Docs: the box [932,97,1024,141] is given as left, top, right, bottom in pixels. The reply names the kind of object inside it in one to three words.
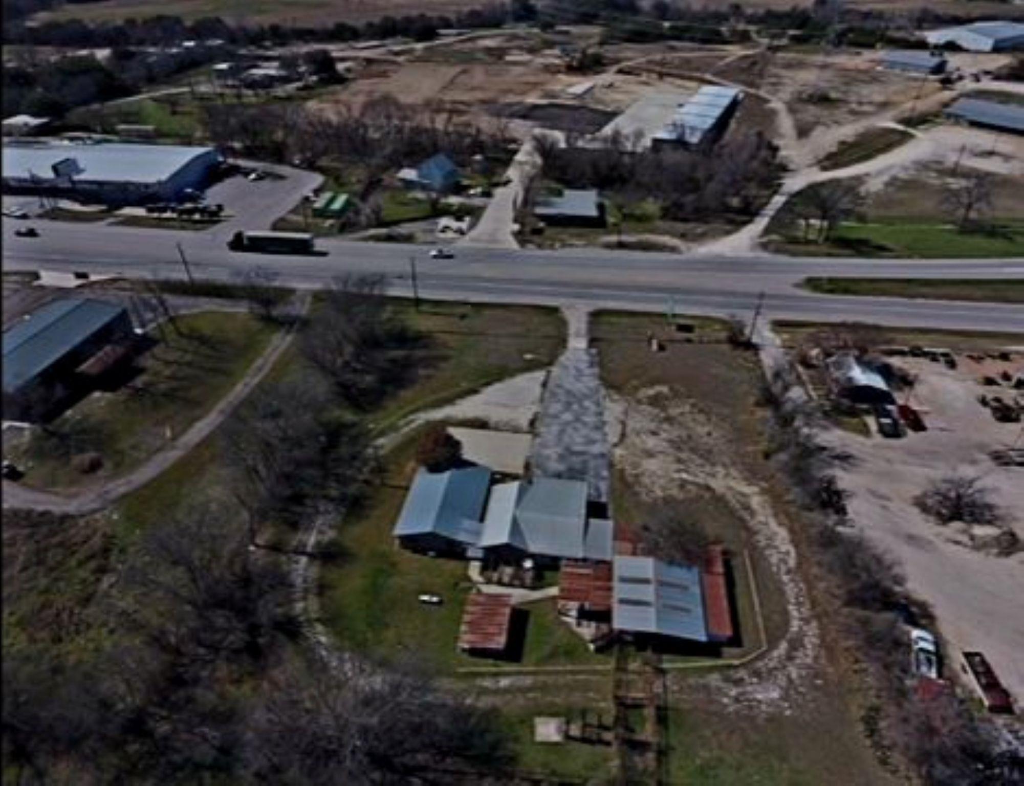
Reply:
barn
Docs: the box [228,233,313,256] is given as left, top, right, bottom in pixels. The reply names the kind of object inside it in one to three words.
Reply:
truck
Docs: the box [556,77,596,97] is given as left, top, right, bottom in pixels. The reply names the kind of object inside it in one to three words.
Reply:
shed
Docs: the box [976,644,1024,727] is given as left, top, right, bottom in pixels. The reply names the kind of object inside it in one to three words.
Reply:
trailer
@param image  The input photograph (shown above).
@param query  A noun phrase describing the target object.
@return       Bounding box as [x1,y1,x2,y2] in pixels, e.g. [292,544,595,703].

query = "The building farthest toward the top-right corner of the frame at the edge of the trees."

[927,19,1024,51]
